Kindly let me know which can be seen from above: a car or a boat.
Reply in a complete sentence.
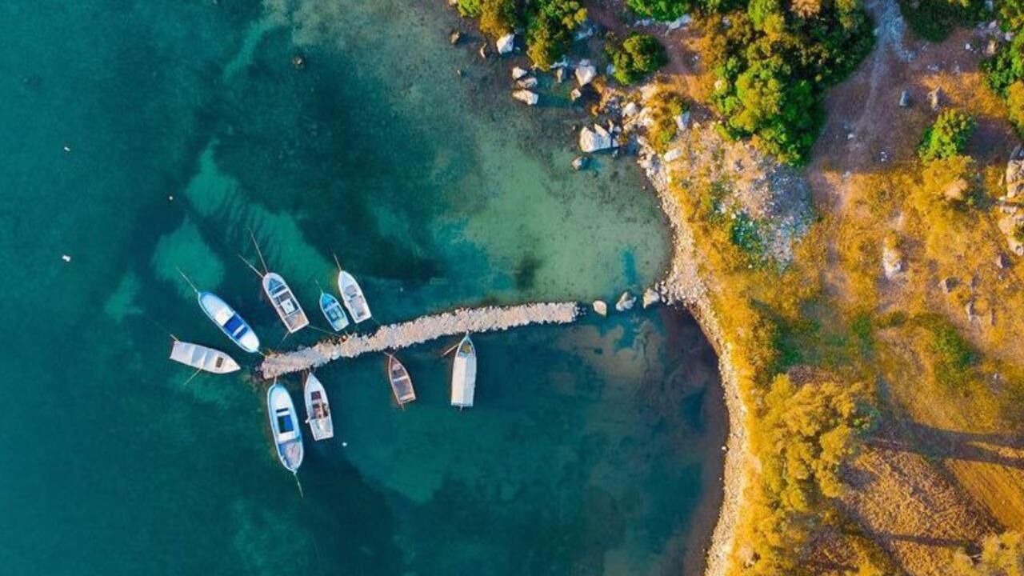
I can see a boat in this picture.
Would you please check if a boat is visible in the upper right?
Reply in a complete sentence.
No, there is no boat in the upper right.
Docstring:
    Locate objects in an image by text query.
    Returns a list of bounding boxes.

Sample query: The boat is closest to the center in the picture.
[451,335,476,410]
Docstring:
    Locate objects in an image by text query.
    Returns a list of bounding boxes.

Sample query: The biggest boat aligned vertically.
[266,373,305,497]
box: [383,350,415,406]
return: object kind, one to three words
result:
boat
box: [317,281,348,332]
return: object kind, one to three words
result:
boat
